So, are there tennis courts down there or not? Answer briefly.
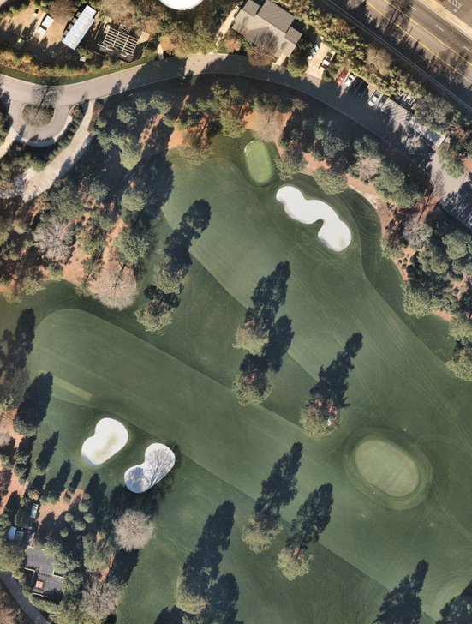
No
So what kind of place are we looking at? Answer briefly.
golf course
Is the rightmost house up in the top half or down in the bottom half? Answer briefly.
top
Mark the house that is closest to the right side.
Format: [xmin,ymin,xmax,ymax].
[230,0,305,62]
